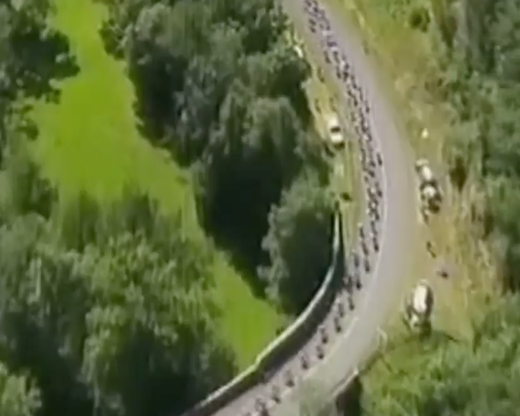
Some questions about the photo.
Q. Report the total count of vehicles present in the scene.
3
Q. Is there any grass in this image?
Yes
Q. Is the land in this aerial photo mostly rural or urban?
rural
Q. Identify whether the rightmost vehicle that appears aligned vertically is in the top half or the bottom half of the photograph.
bottom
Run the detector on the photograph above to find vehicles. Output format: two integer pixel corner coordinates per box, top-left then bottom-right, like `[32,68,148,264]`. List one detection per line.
[409,283,433,328]
[324,119,346,142]
[416,180,446,210]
